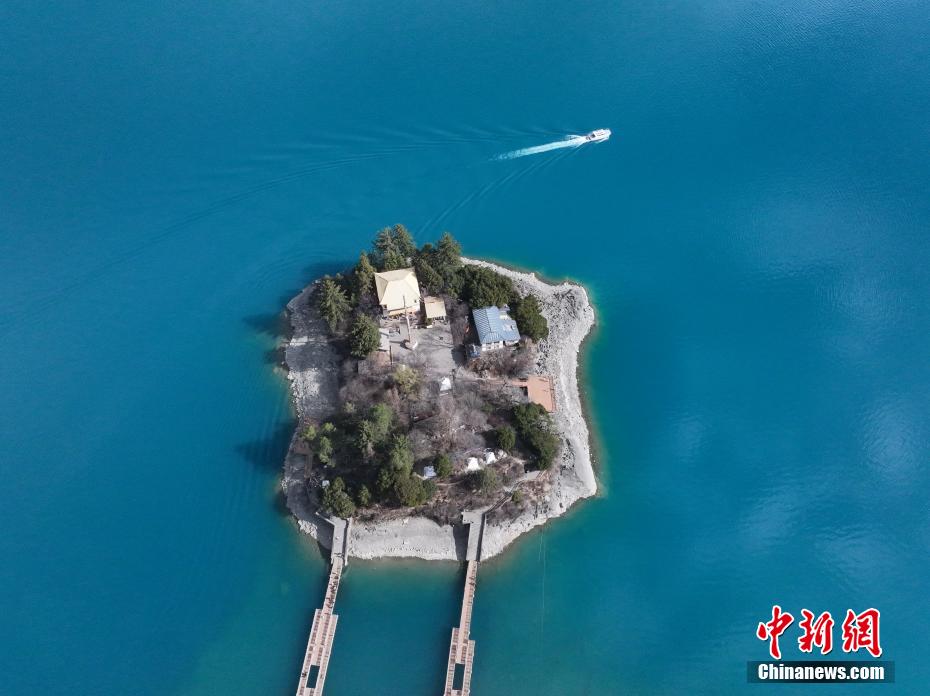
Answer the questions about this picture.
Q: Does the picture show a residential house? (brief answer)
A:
Yes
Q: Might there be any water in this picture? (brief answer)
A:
Yes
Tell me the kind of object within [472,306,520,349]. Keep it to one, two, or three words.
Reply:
house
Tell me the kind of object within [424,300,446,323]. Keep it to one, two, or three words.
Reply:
building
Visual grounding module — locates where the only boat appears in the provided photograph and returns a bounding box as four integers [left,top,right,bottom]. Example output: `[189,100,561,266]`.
[584,129,612,143]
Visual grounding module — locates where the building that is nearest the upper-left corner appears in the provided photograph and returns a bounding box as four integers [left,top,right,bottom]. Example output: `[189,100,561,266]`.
[376,267,421,323]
